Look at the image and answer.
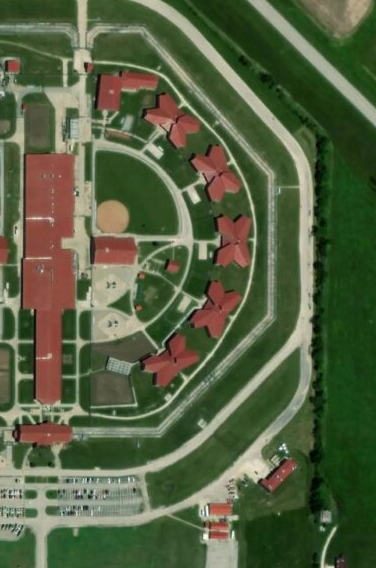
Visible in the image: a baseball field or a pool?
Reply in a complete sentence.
There is a baseball field in the scene.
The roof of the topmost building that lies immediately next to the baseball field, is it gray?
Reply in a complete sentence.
No, the color of the roof of the topmost building that lies immediately next to the baseball field is red.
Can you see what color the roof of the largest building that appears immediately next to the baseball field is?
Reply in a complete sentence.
The roof over the largest building that appears immediately next to the baseball field appears red.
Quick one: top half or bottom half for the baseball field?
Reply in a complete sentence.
The top half of the photo is where the baseball field is.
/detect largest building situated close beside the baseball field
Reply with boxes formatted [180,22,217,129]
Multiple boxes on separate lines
[23,153,76,405]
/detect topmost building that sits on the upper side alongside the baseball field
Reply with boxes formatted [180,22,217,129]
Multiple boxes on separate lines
[98,71,159,110]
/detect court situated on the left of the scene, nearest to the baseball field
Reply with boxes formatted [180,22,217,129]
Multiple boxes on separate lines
[93,266,135,306]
